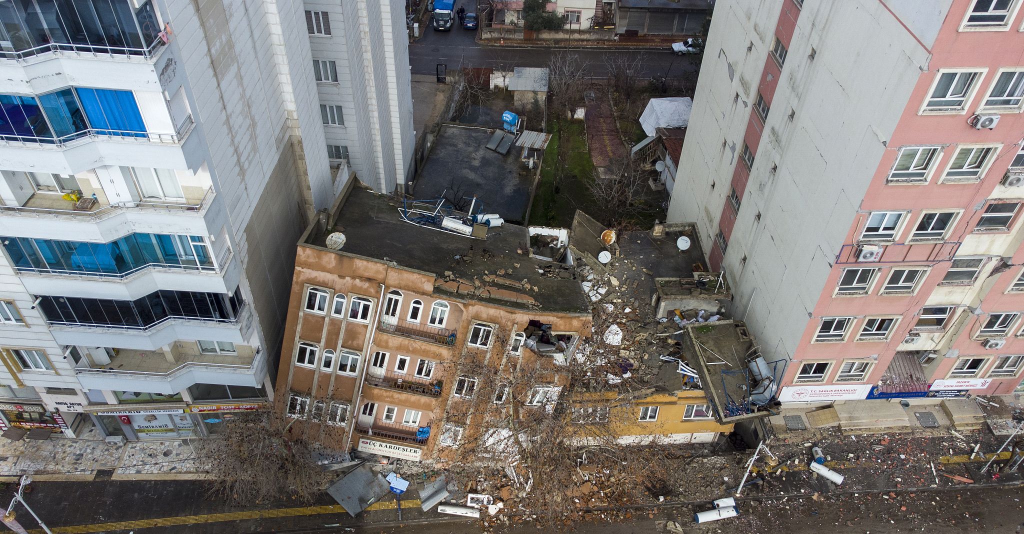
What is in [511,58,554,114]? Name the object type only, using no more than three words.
shed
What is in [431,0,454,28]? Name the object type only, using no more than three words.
truck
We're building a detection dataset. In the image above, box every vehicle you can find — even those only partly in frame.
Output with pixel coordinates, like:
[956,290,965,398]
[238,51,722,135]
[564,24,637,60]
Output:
[431,0,454,28]
[670,36,704,54]
[461,7,480,27]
